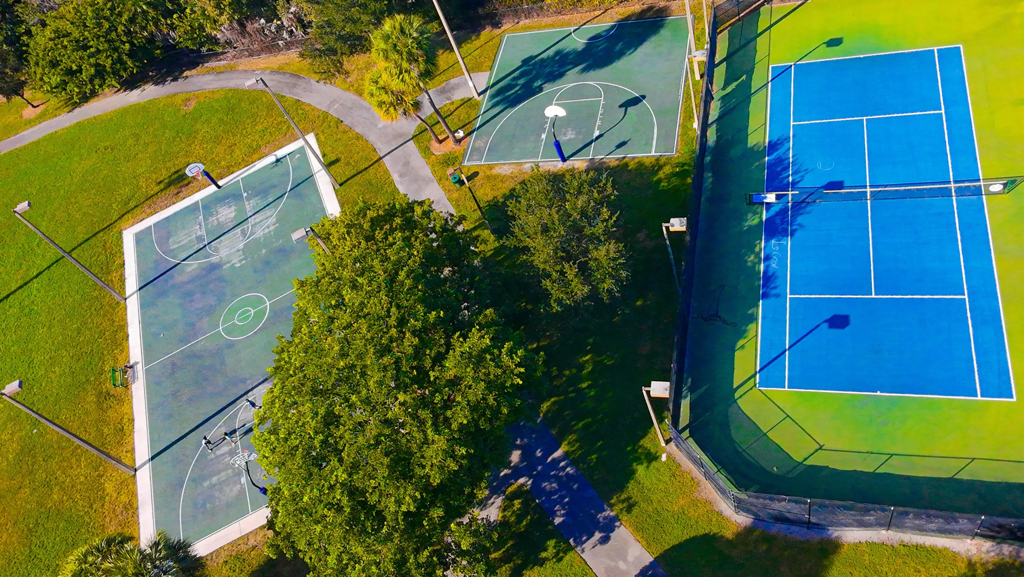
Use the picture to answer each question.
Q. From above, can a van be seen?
No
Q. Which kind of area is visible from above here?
sports ground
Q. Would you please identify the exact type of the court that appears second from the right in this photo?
basketball court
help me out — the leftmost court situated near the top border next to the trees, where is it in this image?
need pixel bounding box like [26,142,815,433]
[461,11,700,166]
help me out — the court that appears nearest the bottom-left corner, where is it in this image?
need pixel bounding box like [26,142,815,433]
[122,131,411,570]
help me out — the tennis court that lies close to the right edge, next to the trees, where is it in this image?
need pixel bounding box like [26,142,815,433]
[679,0,1024,540]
